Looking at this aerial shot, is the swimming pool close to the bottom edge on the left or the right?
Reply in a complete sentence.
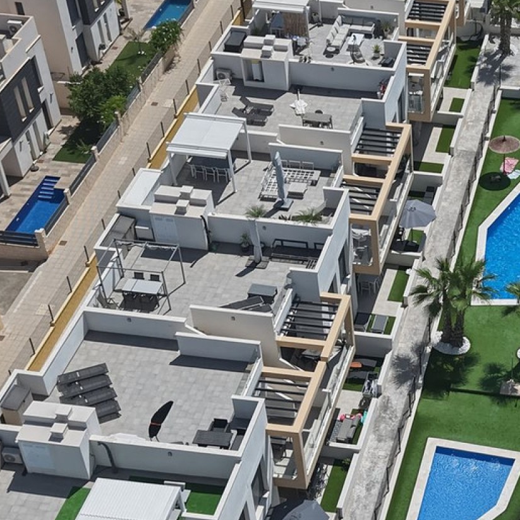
You can find the swimming pool close to the bottom edge on the right side of the picture.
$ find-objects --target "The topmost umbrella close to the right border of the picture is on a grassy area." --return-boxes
[489,129,520,174]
